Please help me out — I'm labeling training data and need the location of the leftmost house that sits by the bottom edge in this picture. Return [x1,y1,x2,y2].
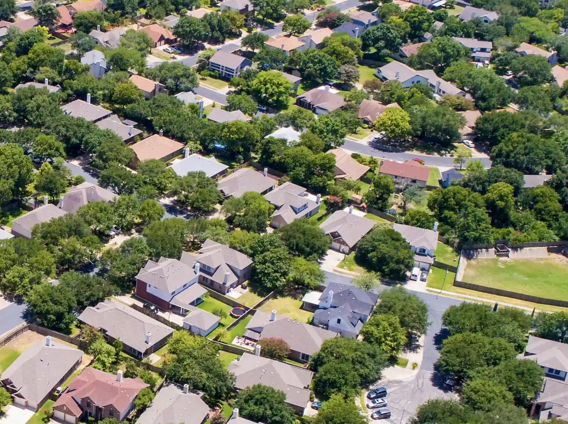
[0,335,91,415]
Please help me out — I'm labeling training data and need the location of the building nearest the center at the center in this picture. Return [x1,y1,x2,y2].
[267,182,321,232]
